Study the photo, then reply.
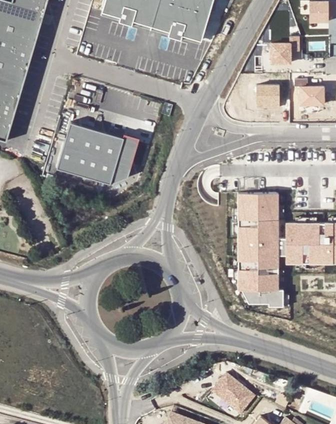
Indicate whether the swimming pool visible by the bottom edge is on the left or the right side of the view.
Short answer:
right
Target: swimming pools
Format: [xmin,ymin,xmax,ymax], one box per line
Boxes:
[306,40,326,52]
[299,387,336,424]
